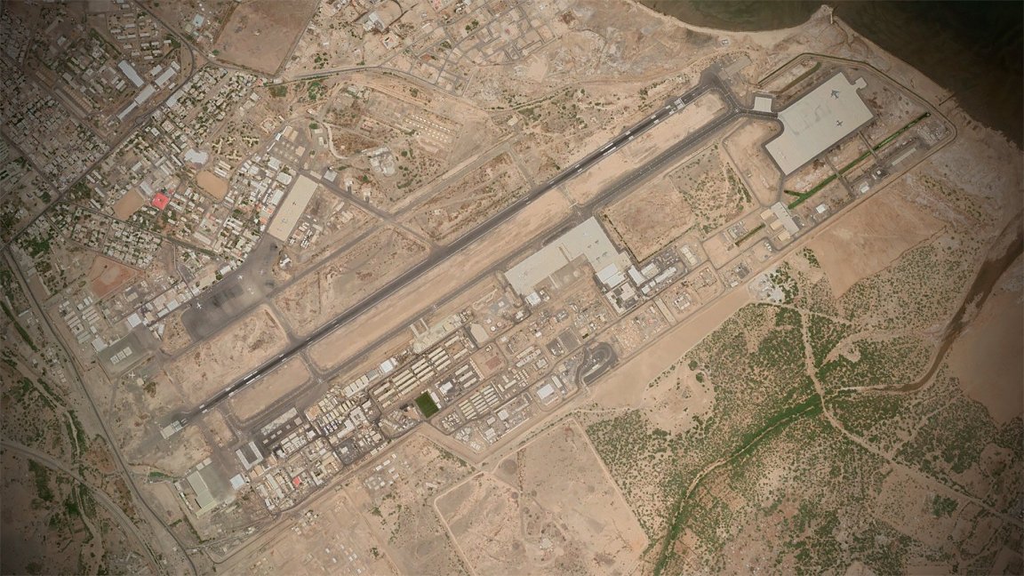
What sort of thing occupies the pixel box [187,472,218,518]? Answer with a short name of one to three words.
hangar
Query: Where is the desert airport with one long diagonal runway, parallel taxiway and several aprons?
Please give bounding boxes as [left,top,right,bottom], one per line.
[98,55,921,504]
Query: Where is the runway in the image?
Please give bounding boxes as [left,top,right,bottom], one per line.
[173,82,707,428]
